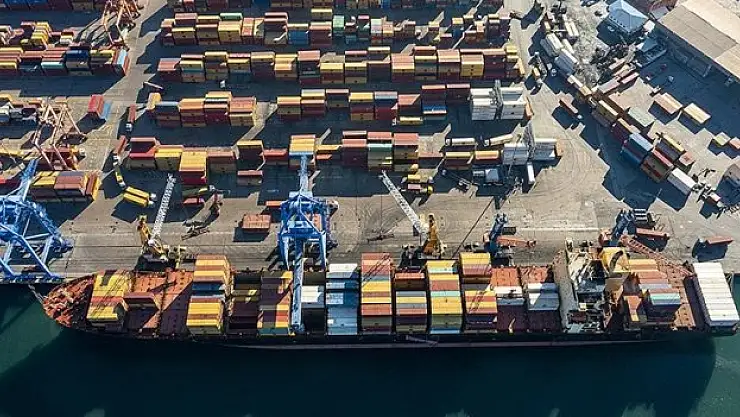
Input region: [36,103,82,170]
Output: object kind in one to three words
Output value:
crane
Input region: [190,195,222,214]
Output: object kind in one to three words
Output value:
work vehicle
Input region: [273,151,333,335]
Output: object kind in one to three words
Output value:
container crane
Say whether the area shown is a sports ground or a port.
port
